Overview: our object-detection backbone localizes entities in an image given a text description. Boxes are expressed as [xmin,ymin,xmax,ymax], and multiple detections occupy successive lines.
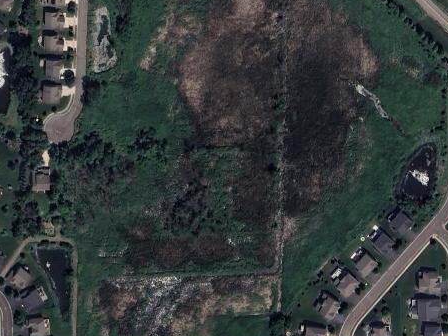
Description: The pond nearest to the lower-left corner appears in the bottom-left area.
[35,247,74,323]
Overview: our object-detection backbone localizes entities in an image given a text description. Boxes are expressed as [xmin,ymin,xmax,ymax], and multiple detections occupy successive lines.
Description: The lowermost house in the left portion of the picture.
[26,318,52,336]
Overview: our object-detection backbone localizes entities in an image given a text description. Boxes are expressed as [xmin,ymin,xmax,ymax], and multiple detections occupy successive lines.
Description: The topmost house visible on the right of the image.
[387,211,413,235]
